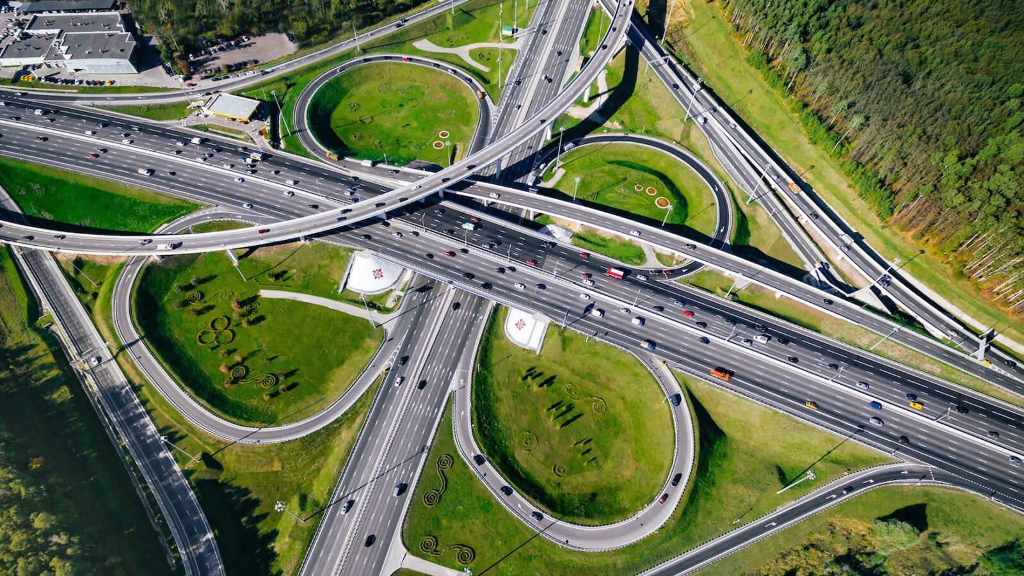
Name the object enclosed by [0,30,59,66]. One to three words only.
building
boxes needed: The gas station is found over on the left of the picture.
[208,94,261,123]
